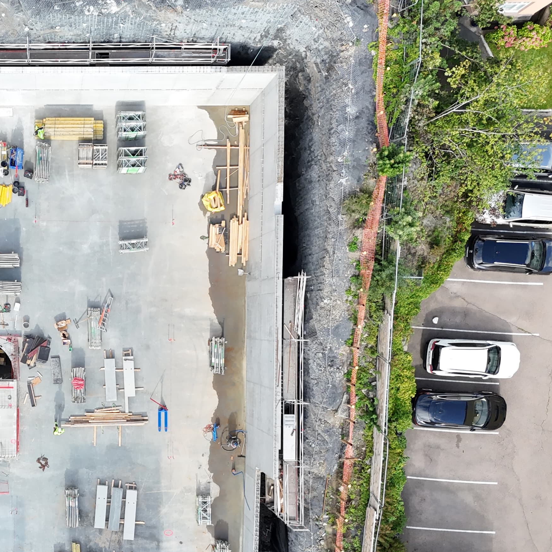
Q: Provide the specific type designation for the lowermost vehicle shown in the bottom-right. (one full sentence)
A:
The lowermost vehicle shown in the bottom-right appears to be a car.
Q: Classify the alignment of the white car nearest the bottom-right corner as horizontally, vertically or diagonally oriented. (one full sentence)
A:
From this overhead view, the white car nearest the bottom-right corner appears to run horizontally.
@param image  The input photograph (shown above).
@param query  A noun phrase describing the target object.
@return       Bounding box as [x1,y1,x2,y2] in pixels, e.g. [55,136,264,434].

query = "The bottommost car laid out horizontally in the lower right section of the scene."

[406,388,506,437]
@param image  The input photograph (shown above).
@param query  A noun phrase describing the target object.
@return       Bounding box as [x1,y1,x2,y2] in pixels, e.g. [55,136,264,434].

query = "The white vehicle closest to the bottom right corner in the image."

[420,335,519,383]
